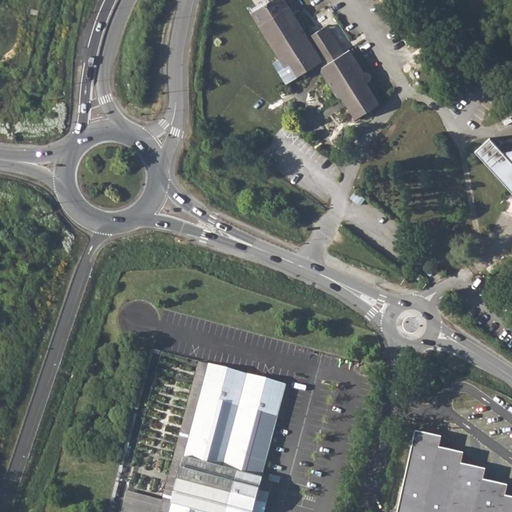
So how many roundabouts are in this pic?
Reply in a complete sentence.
The count of roundabouts comes to 2.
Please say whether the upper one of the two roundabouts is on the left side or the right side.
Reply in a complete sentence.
The upper one of the two roundabouts is on the left side of the image.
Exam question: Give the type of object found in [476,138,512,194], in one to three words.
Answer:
house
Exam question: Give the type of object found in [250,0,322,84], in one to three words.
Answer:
barn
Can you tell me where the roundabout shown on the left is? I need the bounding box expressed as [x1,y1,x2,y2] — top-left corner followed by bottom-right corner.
[53,119,169,235]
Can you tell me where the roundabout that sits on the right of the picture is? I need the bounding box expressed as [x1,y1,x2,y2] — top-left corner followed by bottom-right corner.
[382,294,442,354]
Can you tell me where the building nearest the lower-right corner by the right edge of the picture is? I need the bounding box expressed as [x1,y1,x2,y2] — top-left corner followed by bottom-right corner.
[398,431,512,512]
